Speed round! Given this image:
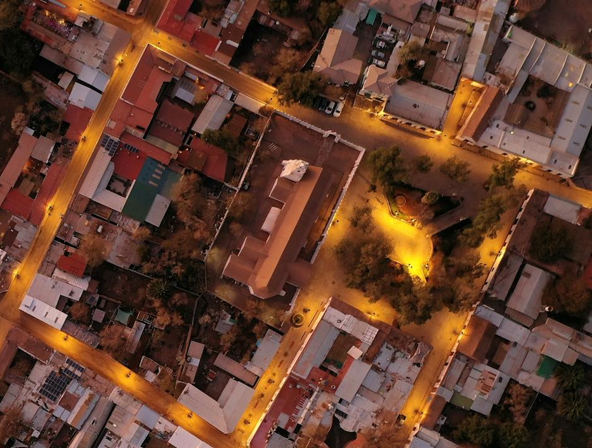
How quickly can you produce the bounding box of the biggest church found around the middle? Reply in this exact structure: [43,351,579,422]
[218,162,338,300]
